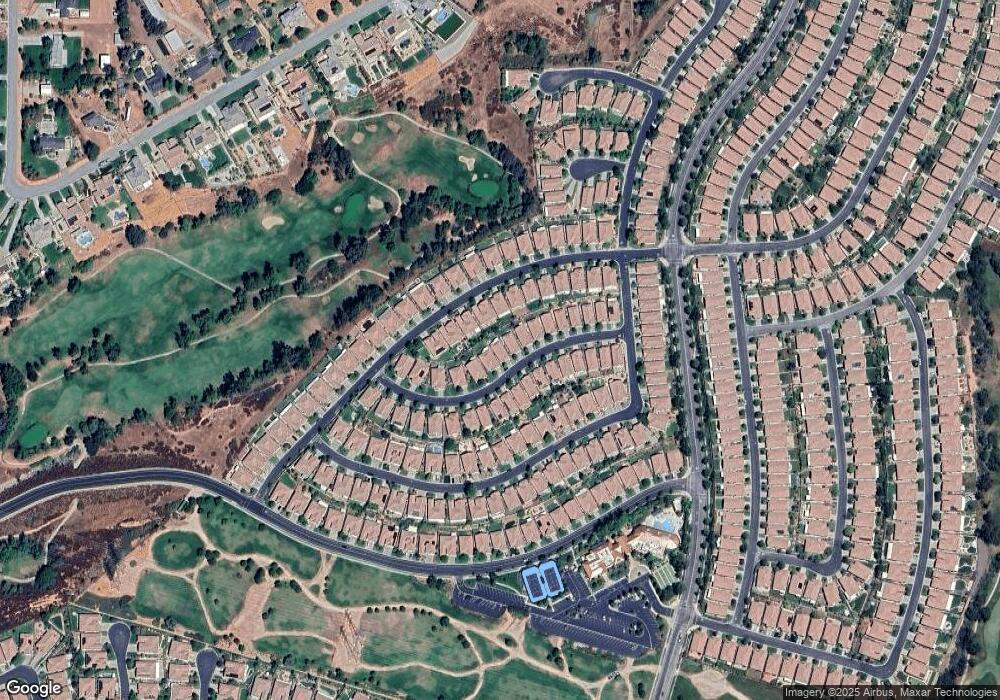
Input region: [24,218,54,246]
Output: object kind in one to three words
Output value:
house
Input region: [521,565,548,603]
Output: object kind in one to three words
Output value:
tennis court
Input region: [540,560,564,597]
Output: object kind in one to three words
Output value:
tennis court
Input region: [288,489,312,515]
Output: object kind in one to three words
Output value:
house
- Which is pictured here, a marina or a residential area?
residential area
